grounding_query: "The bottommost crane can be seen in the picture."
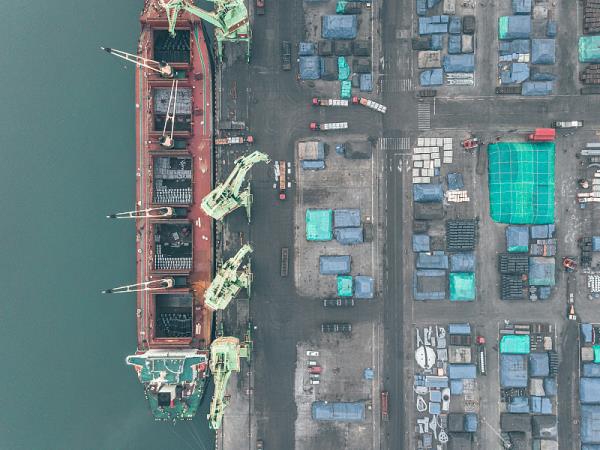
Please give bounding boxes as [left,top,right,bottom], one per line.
[206,322,253,429]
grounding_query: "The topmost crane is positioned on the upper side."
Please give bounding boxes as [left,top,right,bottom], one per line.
[162,0,257,58]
